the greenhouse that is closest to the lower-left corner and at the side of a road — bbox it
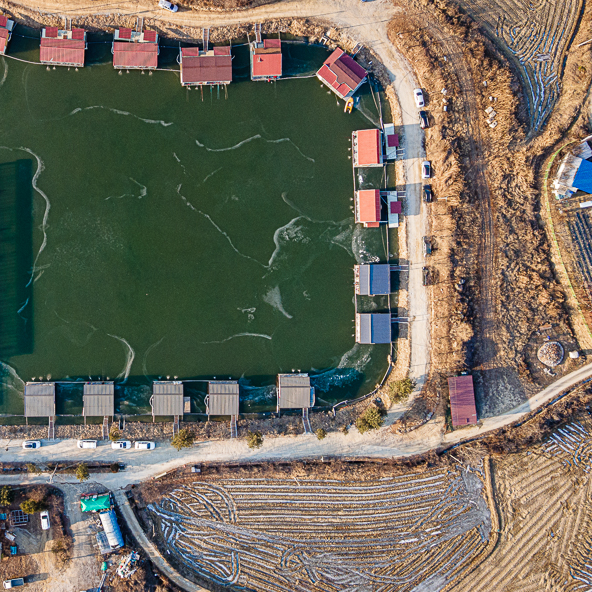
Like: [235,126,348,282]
[99,508,124,549]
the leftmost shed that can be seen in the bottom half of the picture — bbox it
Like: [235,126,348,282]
[24,380,56,424]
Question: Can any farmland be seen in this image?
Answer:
Yes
